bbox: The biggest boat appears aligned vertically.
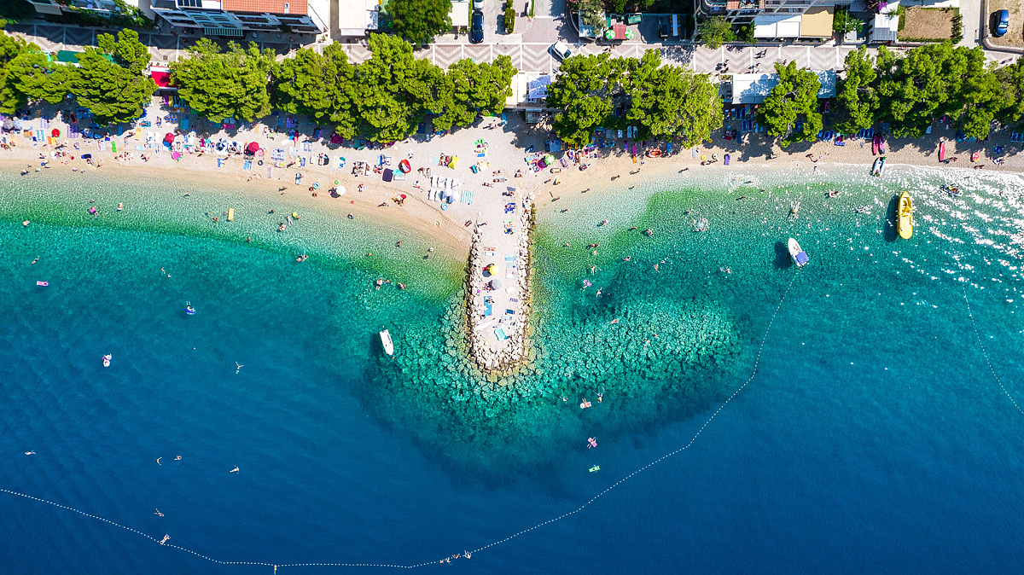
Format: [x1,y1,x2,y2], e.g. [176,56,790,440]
[896,190,916,240]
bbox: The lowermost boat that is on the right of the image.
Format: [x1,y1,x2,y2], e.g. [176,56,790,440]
[791,239,813,270]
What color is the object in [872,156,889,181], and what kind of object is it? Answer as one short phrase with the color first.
white boat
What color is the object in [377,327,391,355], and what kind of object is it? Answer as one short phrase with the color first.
white boat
